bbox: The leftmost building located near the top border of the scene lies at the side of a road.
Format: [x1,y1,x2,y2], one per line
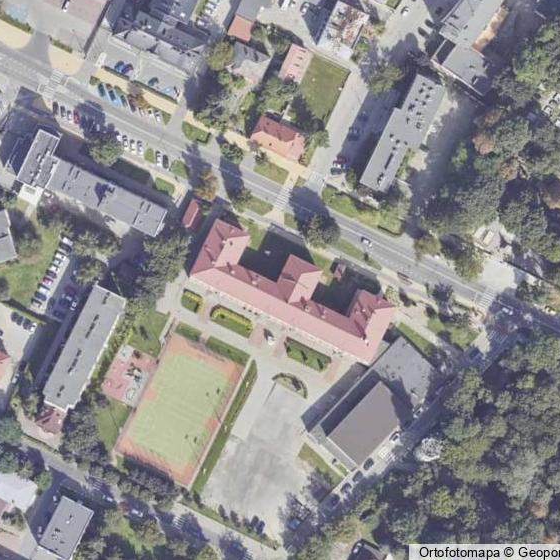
[112,0,210,82]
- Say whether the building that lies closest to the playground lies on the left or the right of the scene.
left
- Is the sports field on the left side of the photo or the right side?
left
